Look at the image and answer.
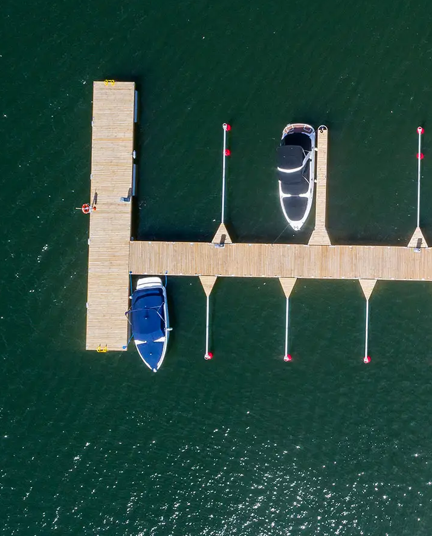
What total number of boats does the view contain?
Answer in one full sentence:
There are 2 boats in the image.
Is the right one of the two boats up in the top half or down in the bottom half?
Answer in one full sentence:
The right one of the two boats sits in the top half of the picture.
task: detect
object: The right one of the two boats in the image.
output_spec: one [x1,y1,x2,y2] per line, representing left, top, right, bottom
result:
[272,124,322,245]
